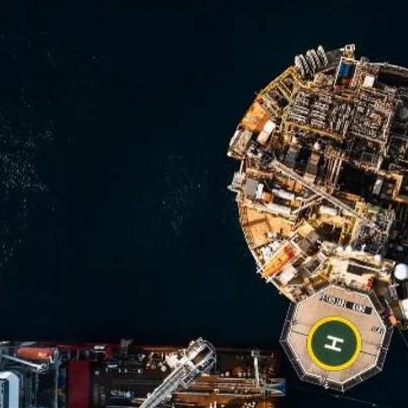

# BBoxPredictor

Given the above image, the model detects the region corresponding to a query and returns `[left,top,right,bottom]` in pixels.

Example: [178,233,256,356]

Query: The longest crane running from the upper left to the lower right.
[251,141,388,237]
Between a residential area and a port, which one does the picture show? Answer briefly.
port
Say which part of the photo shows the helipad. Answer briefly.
bottom right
